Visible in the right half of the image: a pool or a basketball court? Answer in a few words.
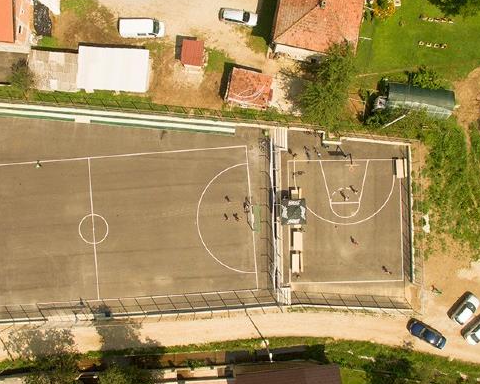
basketball court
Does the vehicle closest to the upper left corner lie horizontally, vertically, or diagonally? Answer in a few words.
horizontally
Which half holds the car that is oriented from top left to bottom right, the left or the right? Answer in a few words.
right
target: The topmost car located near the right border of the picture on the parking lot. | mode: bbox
[450,292,480,326]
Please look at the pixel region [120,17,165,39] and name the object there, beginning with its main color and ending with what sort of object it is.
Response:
white vehicle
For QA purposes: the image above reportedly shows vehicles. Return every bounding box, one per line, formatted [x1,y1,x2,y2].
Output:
[120,17,165,39]
[220,8,258,27]
[464,318,480,347]
[450,292,480,326]
[408,319,446,348]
